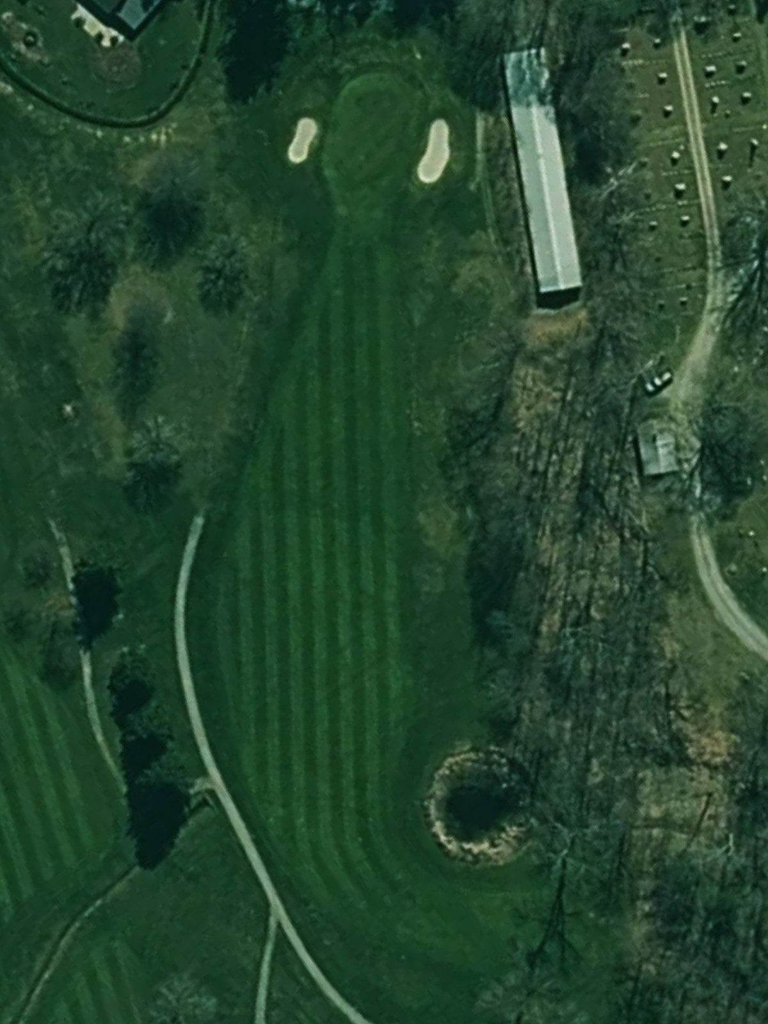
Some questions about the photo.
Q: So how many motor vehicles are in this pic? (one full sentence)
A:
I count just 1 motor vehicle.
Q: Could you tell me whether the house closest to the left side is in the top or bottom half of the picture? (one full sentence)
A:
The house closest to the left side is in the top half of the image.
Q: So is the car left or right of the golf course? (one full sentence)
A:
From the viewer's perspective, the car falls to the right of the golf course.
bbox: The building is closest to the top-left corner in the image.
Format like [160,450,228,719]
[102,0,161,29]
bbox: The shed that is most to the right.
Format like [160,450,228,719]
[638,421,679,474]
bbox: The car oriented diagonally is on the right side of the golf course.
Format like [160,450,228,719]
[644,371,671,393]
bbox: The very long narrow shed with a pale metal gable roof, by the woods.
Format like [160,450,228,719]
[504,47,583,294]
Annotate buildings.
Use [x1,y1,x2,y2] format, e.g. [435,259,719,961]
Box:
[638,421,679,474]
[102,0,161,29]
[504,47,583,294]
